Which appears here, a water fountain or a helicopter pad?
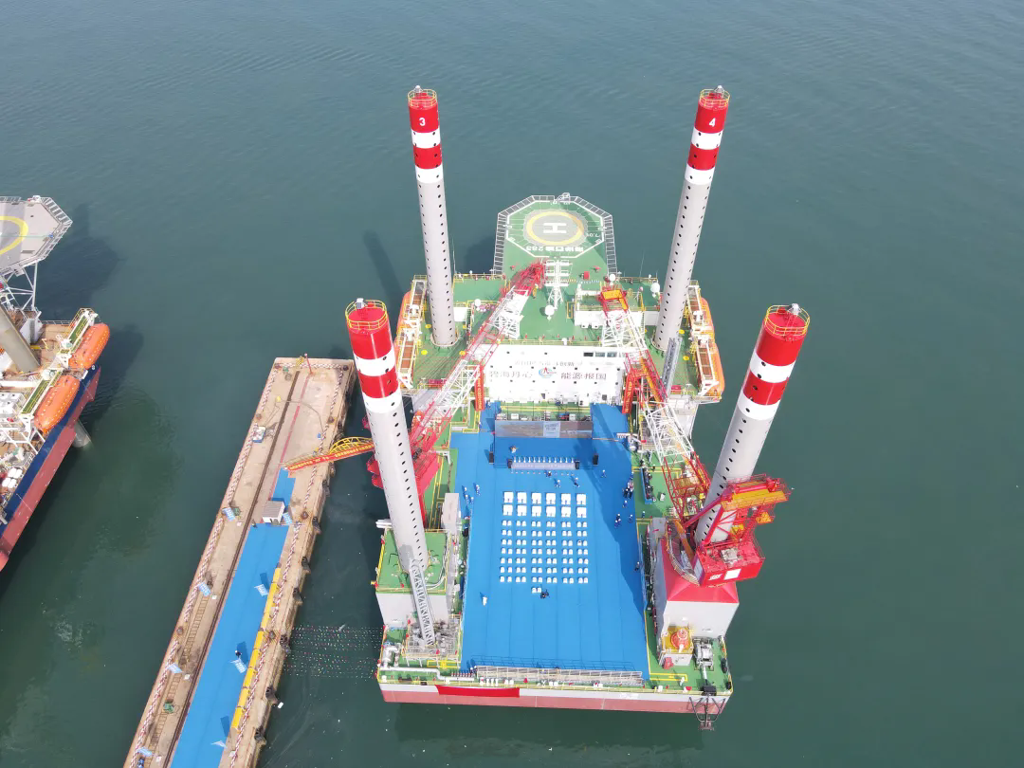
helicopter pad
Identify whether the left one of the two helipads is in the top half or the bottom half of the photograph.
top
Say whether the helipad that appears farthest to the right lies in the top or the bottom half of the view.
top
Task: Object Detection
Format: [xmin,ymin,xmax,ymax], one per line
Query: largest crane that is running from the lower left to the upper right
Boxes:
[358,257,550,528]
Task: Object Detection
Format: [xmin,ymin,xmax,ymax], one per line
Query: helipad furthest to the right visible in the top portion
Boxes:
[489,189,627,290]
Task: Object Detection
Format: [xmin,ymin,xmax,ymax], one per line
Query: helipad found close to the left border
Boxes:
[0,196,74,319]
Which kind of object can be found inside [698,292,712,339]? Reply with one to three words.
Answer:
boat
